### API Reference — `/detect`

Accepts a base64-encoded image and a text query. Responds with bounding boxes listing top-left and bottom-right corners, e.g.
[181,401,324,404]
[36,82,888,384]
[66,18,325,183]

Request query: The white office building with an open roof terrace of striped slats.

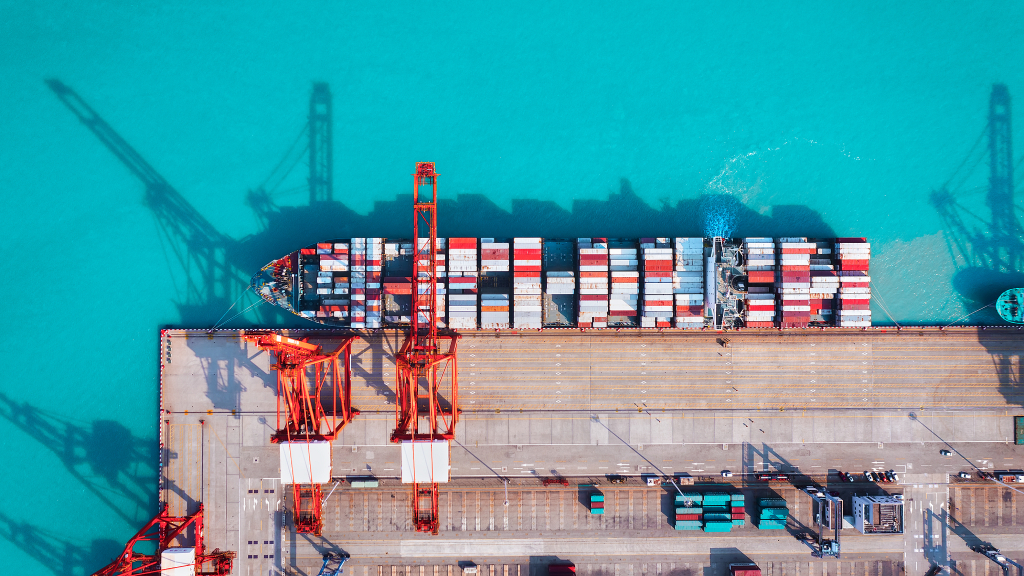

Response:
[852,496,904,535]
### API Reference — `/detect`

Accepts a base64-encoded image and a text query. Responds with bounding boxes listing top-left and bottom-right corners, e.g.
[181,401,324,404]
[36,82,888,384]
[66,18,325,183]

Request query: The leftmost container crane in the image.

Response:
[92,501,245,576]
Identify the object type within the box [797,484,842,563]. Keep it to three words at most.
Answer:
crane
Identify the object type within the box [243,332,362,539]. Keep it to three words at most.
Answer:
container crane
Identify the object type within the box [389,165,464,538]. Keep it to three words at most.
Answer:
container crane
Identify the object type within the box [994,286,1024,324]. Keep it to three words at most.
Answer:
ship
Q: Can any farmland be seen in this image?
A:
No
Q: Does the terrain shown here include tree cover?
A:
No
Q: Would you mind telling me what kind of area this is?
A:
port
